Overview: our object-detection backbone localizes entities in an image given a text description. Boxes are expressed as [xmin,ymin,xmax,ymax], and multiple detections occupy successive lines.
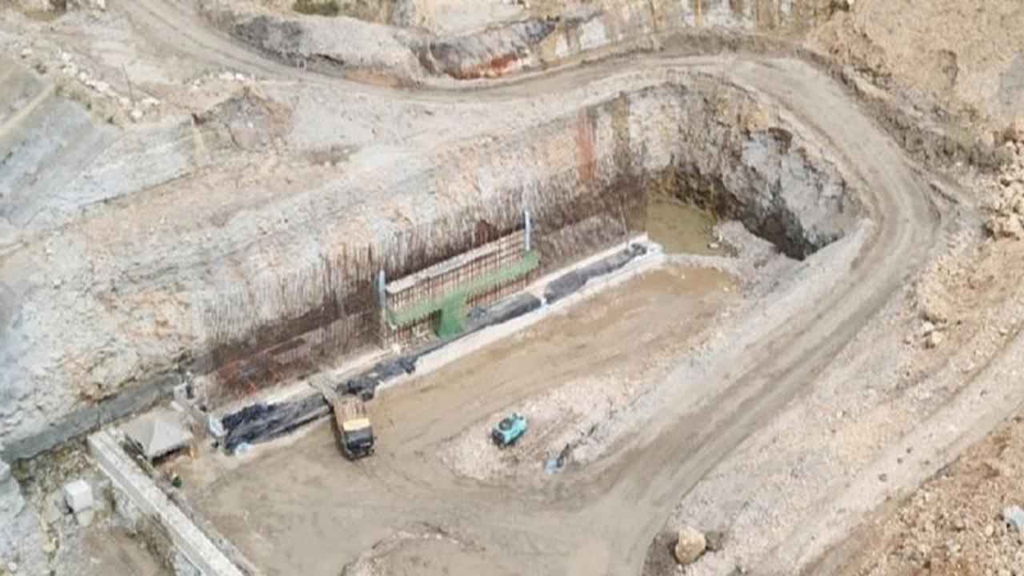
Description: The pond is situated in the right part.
[638,173,744,251]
